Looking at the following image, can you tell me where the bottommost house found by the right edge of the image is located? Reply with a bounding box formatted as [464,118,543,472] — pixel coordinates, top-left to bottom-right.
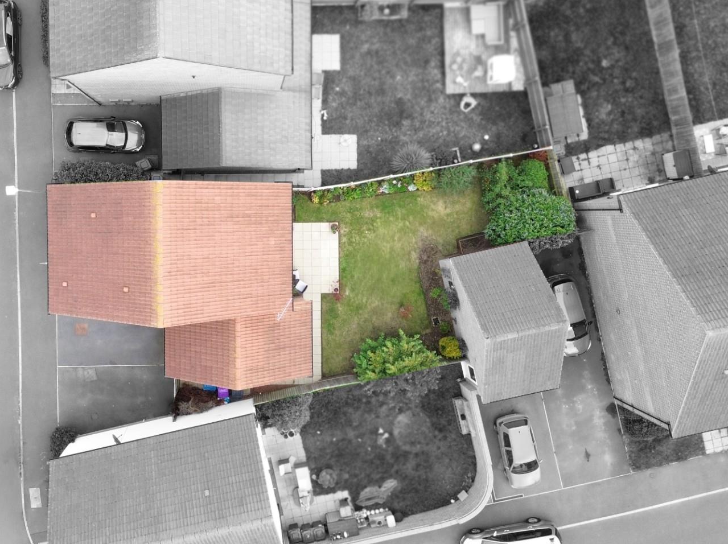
[575,164,728,434]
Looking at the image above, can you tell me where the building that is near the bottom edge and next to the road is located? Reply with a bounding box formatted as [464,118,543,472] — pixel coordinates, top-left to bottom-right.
[48,399,282,544]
